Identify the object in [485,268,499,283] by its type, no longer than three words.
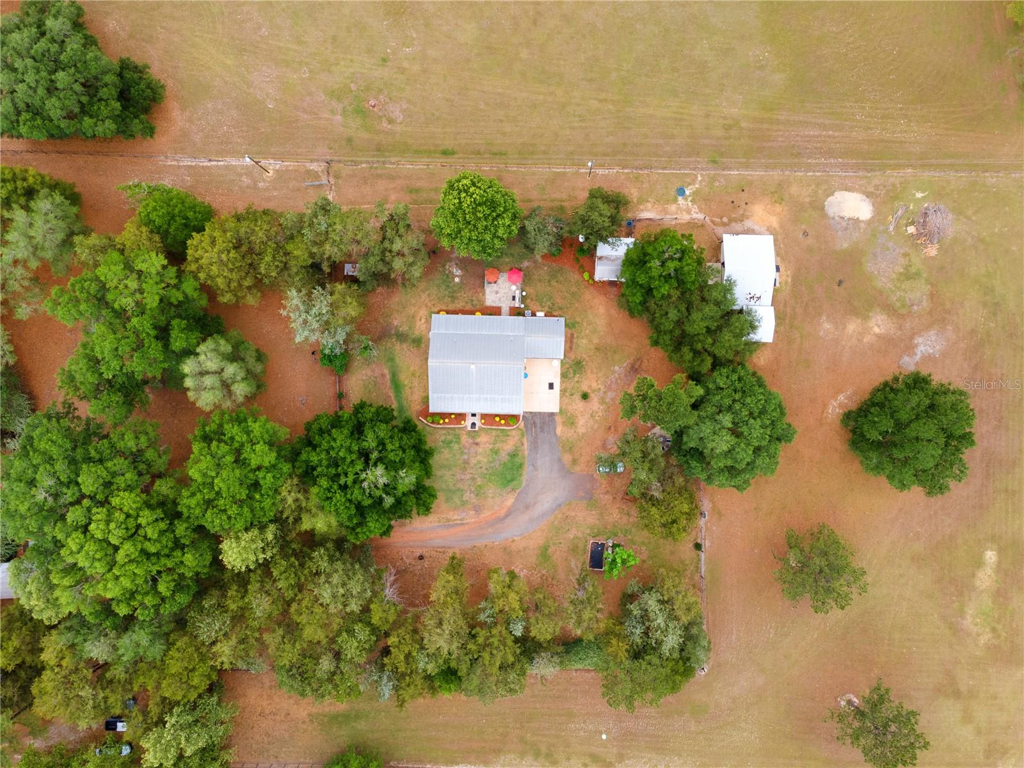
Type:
umbrella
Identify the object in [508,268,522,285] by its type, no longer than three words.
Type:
umbrella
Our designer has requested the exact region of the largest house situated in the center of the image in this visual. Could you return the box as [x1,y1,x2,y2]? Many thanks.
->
[428,313,566,415]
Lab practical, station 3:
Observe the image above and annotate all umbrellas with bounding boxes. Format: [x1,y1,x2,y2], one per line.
[508,268,522,285]
[485,268,499,283]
